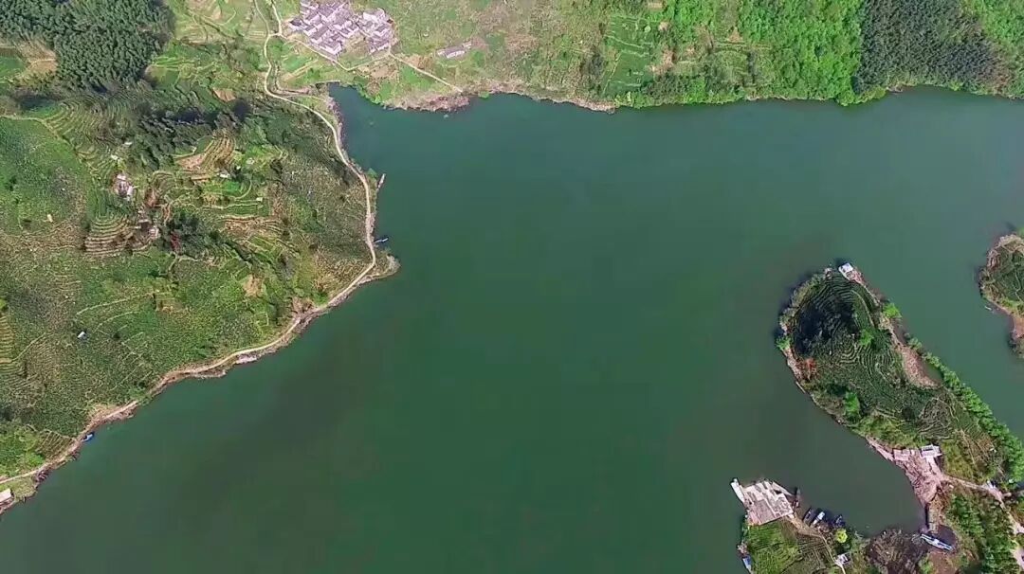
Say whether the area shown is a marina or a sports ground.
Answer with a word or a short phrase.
marina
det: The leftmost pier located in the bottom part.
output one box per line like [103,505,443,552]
[742,478,794,527]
